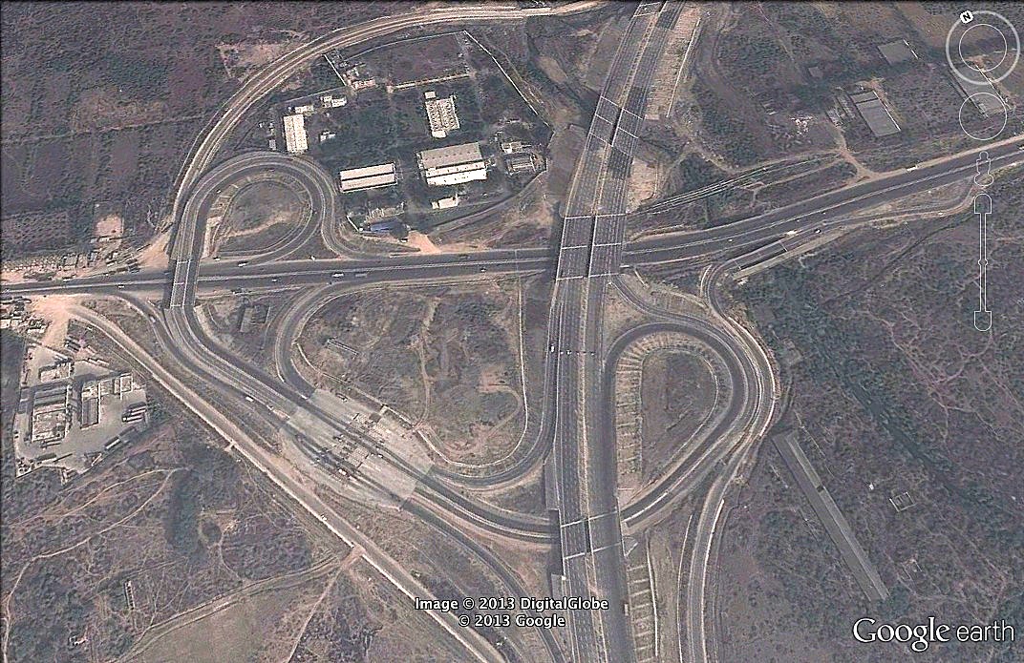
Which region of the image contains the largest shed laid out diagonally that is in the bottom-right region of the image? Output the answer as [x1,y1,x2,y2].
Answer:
[773,431,884,607]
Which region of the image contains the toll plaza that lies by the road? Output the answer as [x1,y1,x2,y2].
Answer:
[276,389,432,509]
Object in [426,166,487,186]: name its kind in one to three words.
building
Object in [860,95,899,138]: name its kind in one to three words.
shed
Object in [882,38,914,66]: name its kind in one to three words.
shed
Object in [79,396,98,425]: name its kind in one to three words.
building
